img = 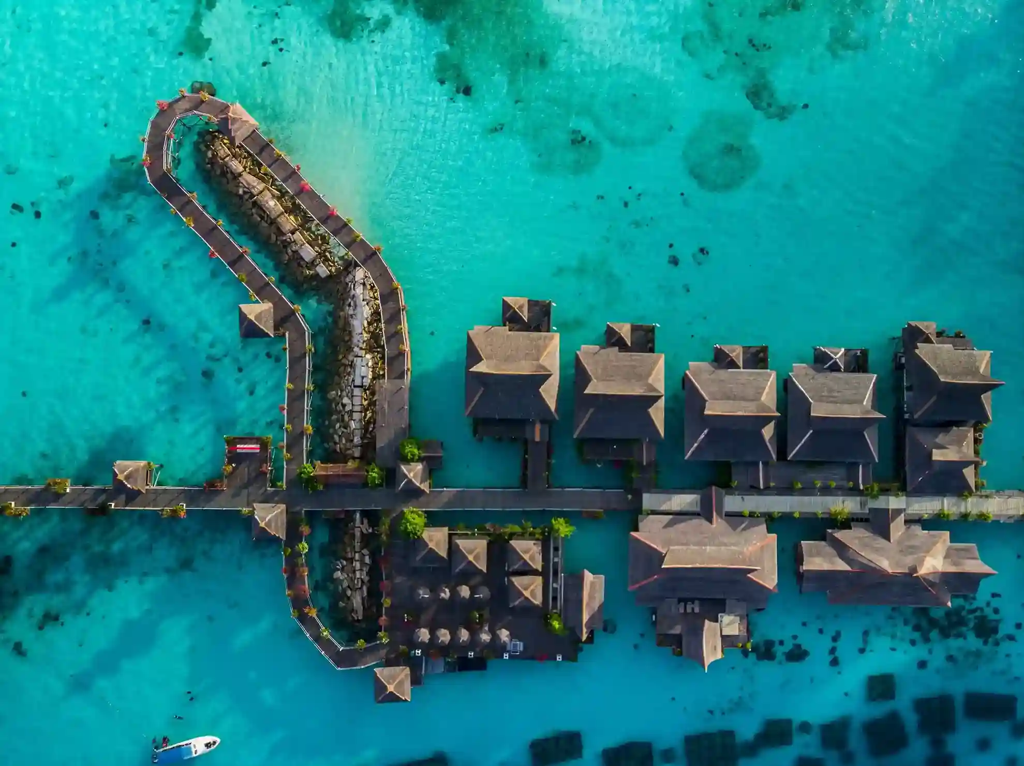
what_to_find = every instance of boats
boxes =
[149,737,220,766]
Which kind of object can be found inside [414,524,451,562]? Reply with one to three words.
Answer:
gazebo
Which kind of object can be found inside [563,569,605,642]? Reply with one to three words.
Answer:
shed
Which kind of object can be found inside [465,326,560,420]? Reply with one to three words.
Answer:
house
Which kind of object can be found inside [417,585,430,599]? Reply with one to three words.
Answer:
umbrella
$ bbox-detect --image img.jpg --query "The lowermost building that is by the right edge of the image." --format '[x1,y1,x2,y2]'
[795,508,999,608]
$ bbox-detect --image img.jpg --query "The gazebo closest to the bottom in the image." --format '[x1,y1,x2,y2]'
[373,660,412,704]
